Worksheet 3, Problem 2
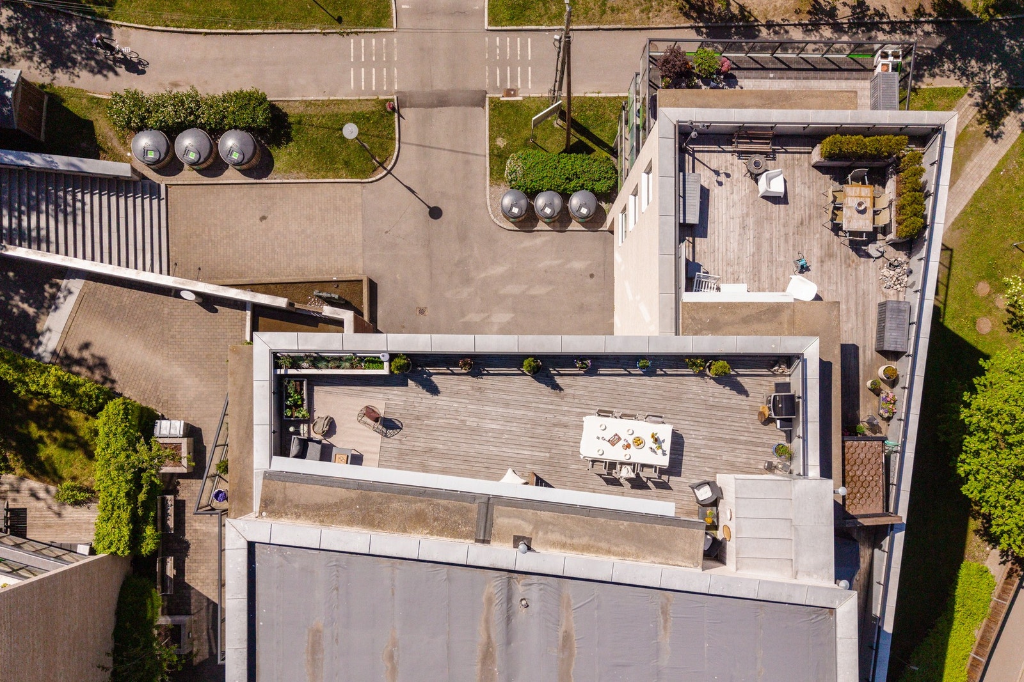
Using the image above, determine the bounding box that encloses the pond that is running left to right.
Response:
[192,277,372,334]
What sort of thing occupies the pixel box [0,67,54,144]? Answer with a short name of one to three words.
shed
